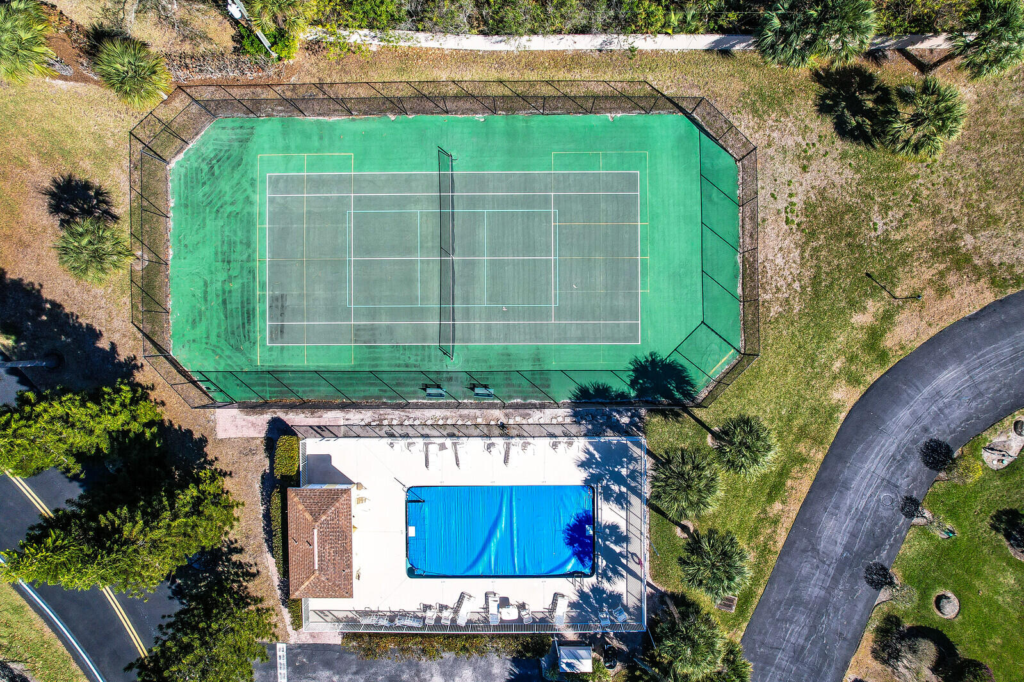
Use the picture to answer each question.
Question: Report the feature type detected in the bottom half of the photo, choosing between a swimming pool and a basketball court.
swimming pool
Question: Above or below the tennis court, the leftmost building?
below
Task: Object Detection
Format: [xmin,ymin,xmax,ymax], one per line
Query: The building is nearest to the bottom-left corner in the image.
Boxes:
[285,483,357,601]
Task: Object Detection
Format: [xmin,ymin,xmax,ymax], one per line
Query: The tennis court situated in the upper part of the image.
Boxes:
[169,114,742,401]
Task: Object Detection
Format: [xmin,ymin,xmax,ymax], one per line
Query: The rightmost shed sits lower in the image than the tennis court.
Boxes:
[558,638,593,671]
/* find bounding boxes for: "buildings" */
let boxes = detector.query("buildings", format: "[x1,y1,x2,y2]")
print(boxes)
[285,483,357,601]
[558,638,593,671]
